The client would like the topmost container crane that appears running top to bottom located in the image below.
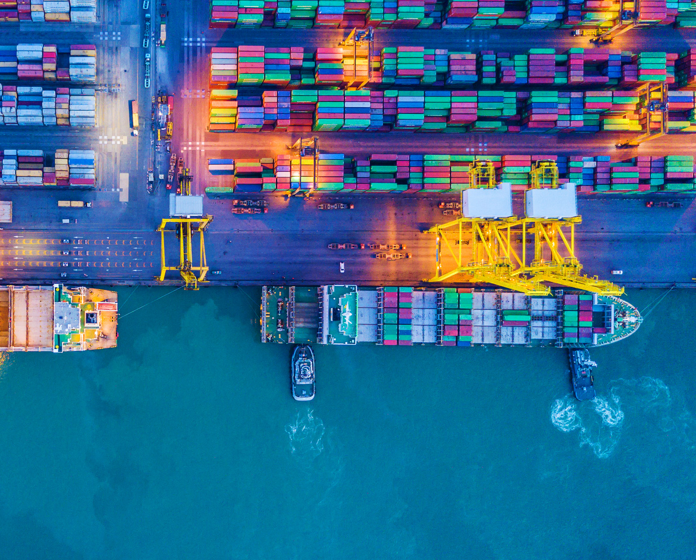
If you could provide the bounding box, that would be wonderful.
[339,24,371,90]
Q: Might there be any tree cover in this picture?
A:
No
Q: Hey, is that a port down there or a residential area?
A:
port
